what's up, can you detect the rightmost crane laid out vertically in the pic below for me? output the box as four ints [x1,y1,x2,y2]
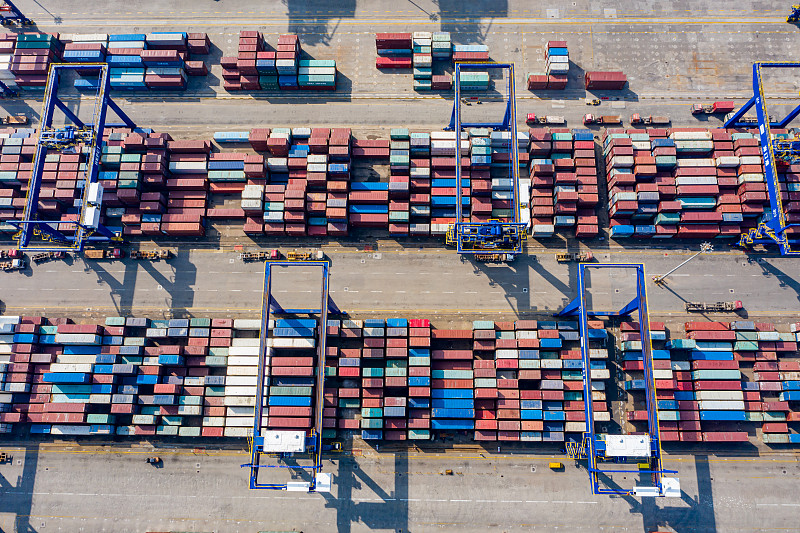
[716,57,800,257]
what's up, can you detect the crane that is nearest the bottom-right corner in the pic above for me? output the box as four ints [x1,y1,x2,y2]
[553,259,685,499]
